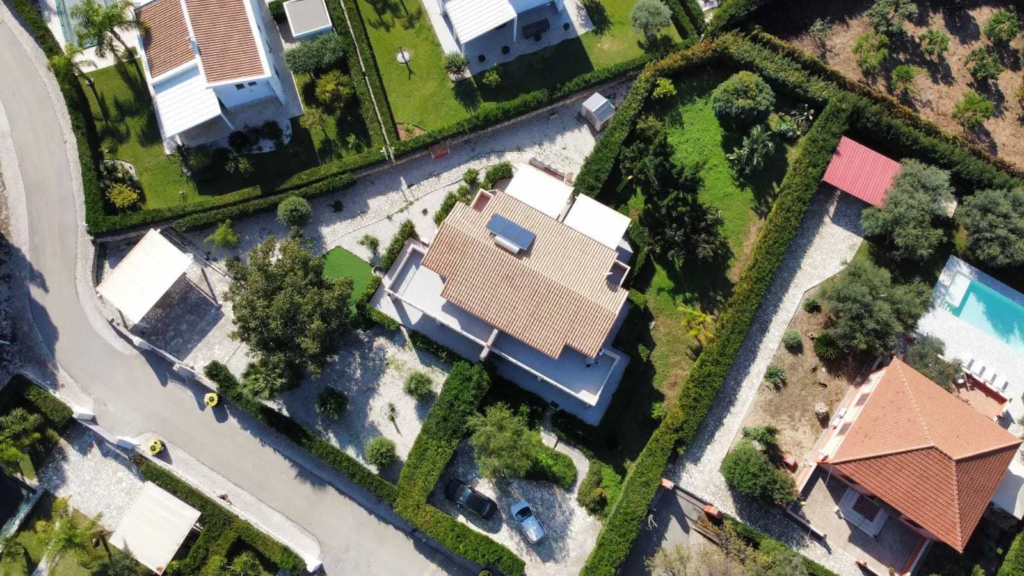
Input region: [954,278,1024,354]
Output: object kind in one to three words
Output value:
swimming pool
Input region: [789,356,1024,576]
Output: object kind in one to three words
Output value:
house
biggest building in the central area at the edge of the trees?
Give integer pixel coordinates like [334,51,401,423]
[386,188,632,406]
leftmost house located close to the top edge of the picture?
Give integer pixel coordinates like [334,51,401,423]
[128,0,289,119]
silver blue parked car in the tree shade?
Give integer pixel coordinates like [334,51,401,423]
[508,496,550,548]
